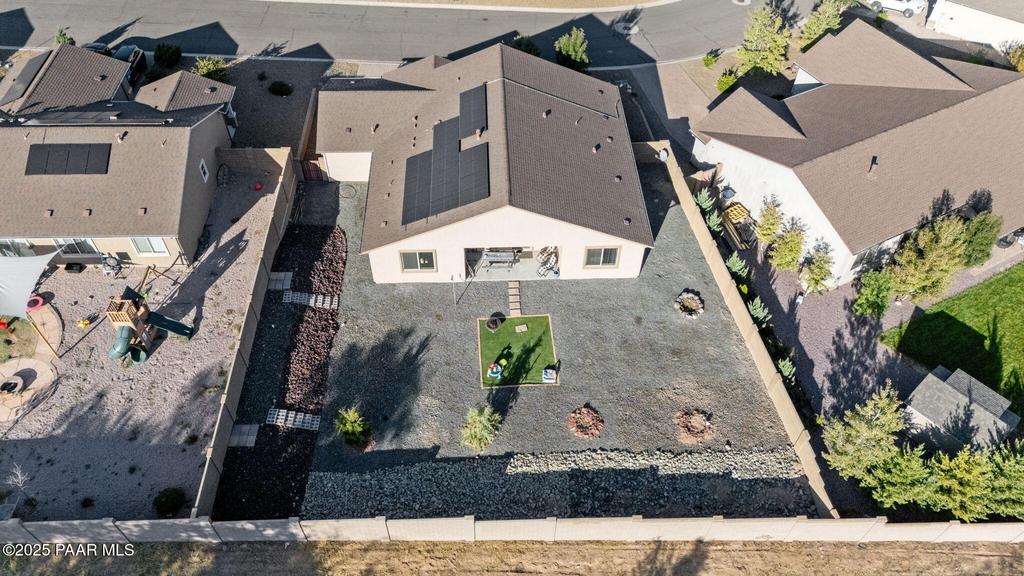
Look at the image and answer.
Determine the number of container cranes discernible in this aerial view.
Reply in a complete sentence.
There are no container cranes in the image.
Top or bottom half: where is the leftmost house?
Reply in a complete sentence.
The leftmost house sits in the top half of the picture.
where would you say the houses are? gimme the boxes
[682,18,1024,286]
[0,43,250,267]
[316,44,655,283]
[925,0,1024,51]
